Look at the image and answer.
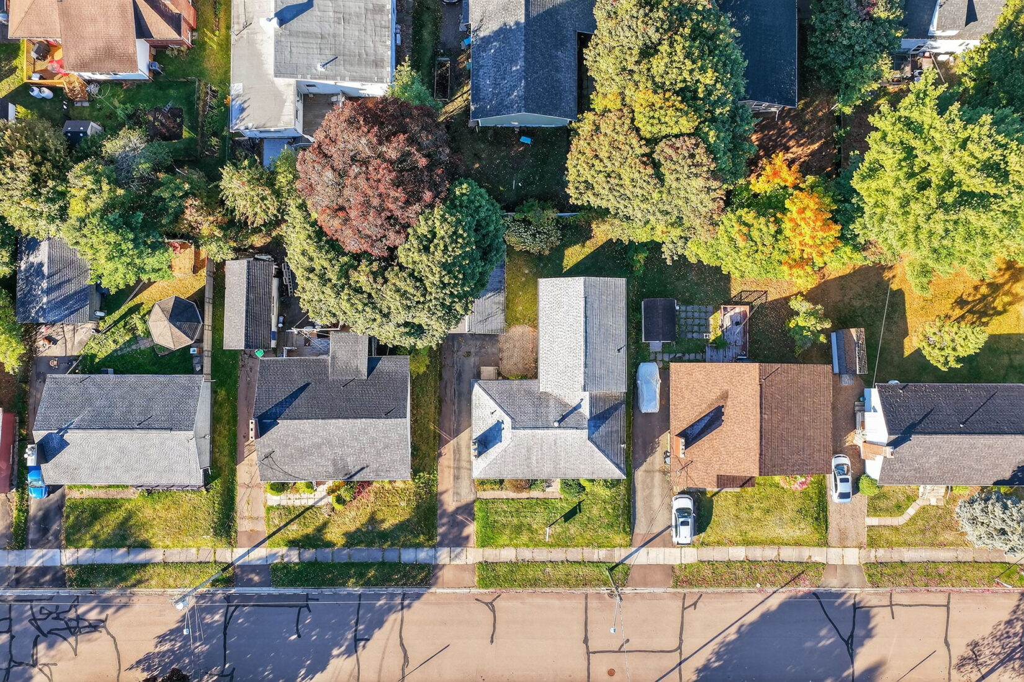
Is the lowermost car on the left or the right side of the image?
right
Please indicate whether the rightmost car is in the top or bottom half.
bottom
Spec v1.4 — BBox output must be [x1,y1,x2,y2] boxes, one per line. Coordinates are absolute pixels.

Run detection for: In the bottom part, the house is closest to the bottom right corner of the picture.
[849,382,1024,500]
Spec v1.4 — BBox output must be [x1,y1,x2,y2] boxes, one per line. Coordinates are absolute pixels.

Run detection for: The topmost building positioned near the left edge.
[9,0,194,81]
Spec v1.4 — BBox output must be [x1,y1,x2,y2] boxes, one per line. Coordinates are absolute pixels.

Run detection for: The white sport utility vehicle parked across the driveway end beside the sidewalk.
[670,493,695,545]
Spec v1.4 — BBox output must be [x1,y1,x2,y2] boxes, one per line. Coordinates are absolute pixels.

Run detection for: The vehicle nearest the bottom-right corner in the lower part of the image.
[829,453,854,503]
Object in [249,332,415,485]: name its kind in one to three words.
house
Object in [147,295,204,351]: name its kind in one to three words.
gazebo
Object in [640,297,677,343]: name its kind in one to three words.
shed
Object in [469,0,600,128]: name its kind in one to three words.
house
